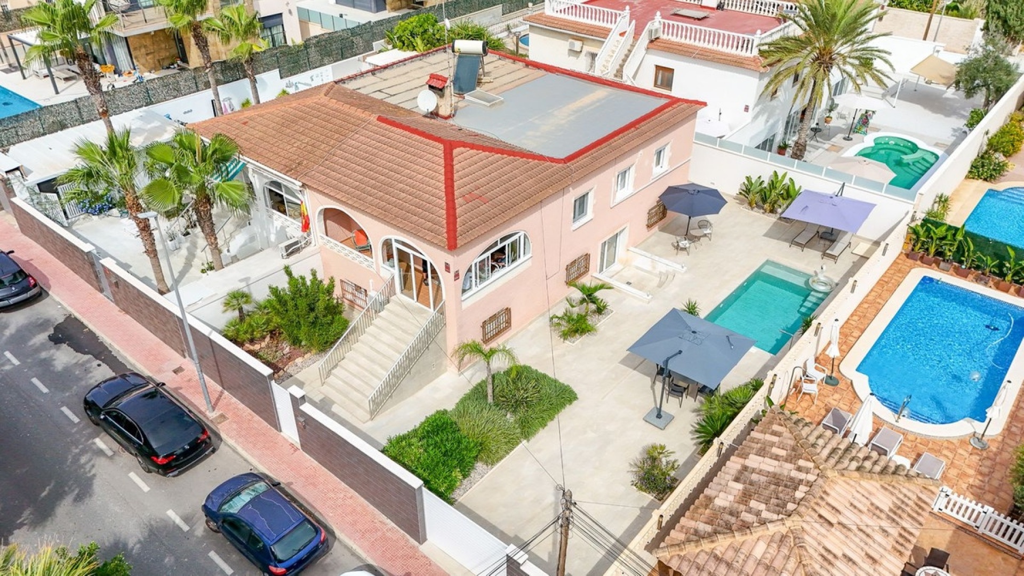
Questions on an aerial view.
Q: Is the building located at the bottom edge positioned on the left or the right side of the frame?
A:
right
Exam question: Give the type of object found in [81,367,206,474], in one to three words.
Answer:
car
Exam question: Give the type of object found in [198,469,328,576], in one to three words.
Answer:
car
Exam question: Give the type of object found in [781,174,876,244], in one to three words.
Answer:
umbrella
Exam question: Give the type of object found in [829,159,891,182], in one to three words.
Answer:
umbrella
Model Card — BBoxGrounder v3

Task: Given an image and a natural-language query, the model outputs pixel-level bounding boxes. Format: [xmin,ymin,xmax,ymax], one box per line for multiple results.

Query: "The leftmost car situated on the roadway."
[0,248,31,307]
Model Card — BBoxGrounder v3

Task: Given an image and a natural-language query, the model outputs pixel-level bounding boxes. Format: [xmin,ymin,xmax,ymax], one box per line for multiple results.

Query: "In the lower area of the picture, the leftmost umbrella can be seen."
[627,308,758,428]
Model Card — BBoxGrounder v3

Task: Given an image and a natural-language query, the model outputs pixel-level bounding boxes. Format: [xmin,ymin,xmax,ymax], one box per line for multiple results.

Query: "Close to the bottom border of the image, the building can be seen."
[646,396,950,576]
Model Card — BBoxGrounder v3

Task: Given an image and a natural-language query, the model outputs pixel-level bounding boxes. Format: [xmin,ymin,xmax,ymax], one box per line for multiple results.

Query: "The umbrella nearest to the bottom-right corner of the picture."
[968,379,1011,450]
